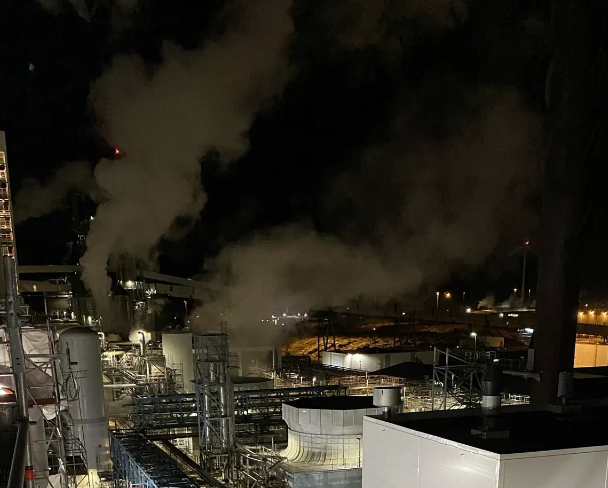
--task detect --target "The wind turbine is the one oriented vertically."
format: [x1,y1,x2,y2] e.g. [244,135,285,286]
[504,216,544,308]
